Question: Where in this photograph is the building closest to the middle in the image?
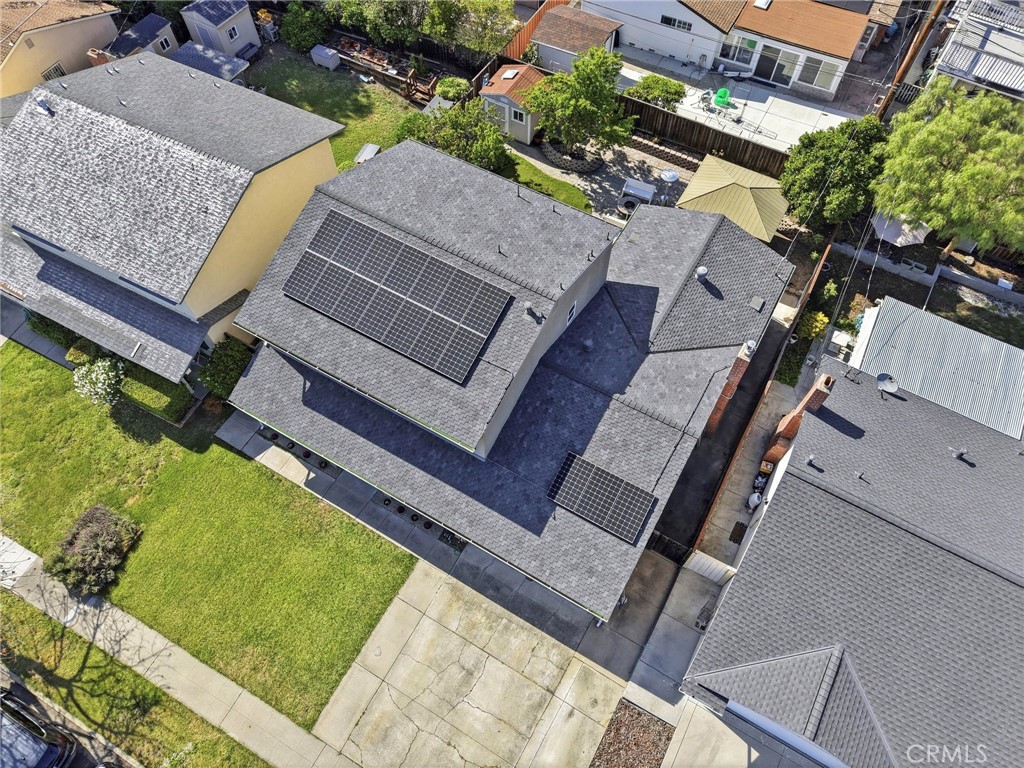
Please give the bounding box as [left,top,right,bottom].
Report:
[225,139,798,625]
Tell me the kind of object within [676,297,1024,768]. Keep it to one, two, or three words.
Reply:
house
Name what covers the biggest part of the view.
buildings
